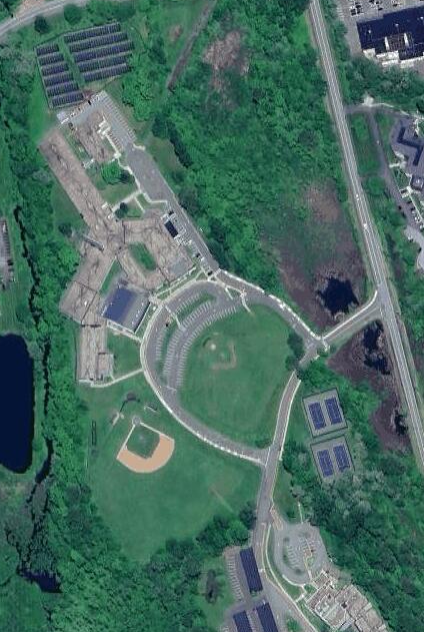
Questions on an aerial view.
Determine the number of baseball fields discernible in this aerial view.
2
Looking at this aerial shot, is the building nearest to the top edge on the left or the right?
right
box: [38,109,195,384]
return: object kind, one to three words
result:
building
